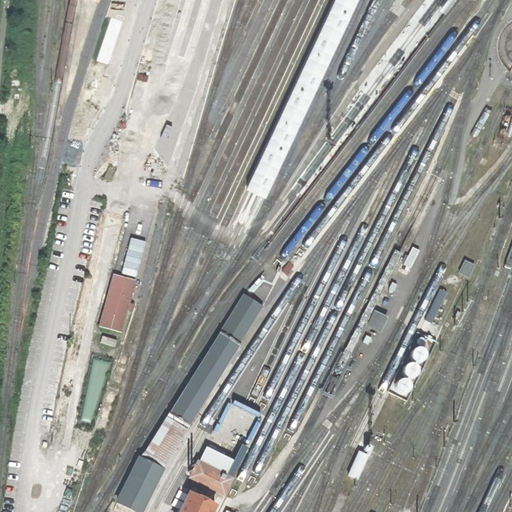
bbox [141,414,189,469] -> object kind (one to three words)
shed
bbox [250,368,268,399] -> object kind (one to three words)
vehicle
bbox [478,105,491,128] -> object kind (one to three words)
rail car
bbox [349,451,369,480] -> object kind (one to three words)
building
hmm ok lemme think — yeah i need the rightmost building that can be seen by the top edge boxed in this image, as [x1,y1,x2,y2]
[247,0,360,198]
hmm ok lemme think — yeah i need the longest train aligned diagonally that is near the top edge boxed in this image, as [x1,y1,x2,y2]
[394,24,477,131]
